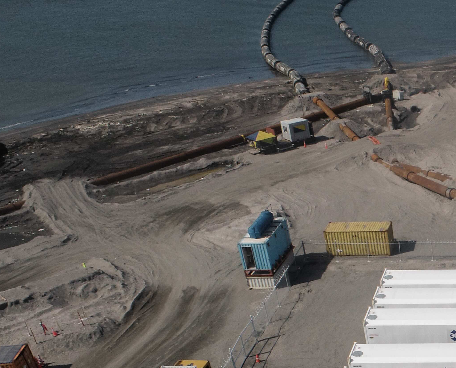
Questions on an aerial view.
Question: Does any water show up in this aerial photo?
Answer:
Yes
